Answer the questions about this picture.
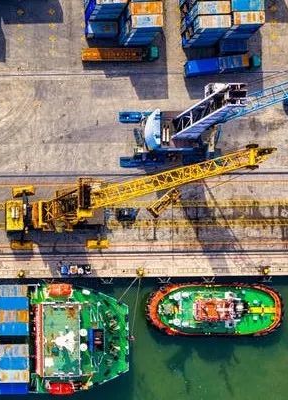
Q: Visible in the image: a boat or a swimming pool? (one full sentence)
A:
The one in the frame is a boat.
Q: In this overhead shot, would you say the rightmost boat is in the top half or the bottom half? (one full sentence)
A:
You can find the rightmost boat in the bottom half.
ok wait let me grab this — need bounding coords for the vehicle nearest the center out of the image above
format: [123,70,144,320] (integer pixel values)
[116,206,140,219]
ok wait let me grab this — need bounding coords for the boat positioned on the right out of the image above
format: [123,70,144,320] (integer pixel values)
[142,281,283,339]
